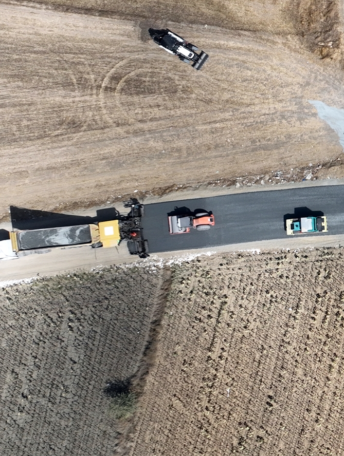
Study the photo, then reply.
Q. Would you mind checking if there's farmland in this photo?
Yes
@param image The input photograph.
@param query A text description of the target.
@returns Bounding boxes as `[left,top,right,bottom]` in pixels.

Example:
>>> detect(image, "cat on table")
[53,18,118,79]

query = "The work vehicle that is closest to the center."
[170,212,218,234]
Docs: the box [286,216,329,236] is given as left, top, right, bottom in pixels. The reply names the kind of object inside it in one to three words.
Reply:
work vehicle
